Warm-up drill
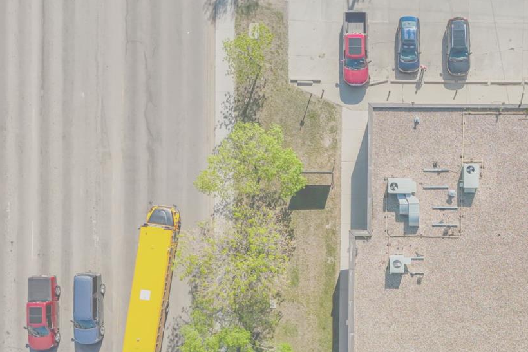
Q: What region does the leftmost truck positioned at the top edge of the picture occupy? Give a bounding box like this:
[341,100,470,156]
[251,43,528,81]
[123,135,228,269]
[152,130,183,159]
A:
[340,11,371,87]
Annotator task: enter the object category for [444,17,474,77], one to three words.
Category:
car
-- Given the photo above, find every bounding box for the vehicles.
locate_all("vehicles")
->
[340,11,371,87]
[444,17,474,77]
[72,273,108,343]
[122,202,187,352]
[393,16,422,75]
[25,274,62,351]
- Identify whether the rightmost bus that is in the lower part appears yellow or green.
yellow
